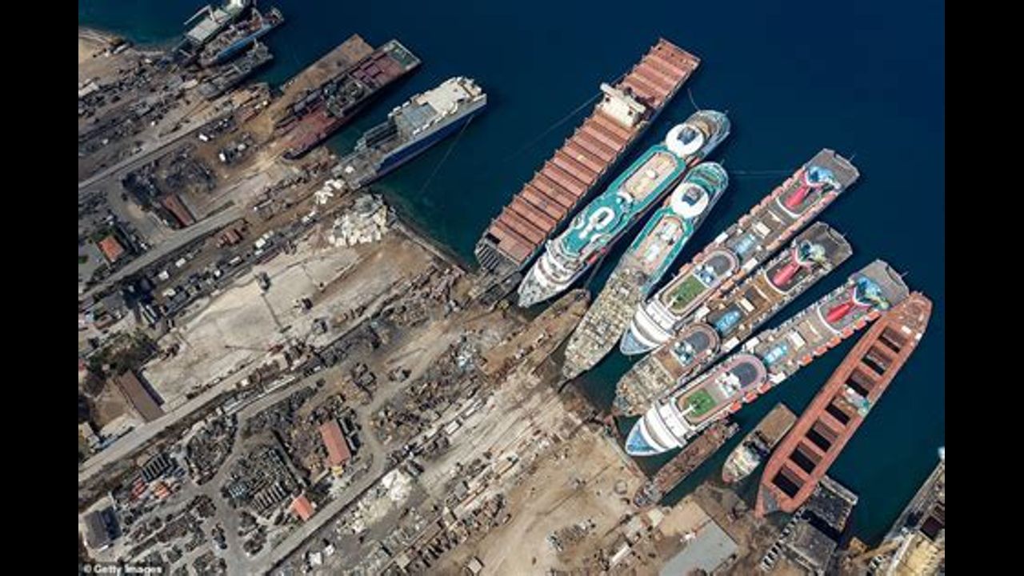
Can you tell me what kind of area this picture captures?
port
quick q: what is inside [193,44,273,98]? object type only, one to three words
ship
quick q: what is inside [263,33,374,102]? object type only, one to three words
ship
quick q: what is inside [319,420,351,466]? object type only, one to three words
shed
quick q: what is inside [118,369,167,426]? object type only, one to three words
building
